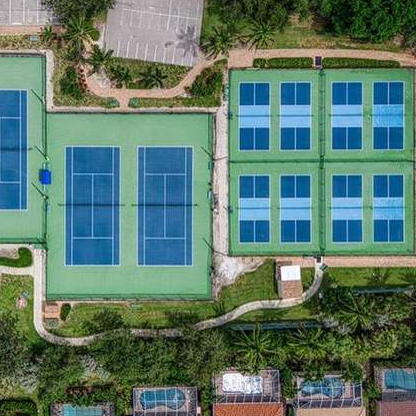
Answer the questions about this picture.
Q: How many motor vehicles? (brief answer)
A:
0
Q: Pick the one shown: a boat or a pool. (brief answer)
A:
pool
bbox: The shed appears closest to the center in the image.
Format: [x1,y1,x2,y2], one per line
[276,265,302,298]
